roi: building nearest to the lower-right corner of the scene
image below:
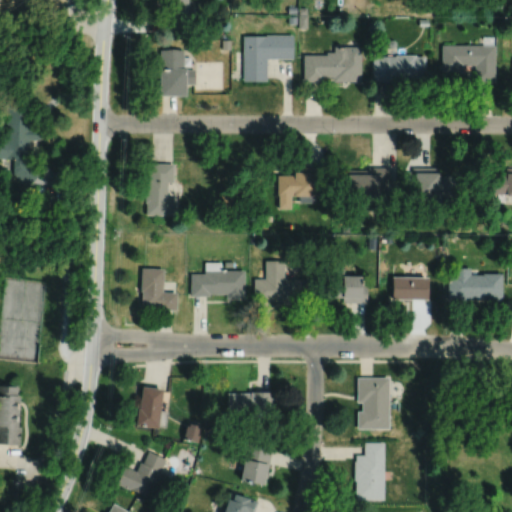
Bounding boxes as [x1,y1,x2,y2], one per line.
[356,444,386,501]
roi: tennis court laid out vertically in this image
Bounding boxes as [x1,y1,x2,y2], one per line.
[0,278,44,364]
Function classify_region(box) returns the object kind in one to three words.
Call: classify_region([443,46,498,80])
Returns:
house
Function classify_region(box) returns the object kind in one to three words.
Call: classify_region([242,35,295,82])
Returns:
house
